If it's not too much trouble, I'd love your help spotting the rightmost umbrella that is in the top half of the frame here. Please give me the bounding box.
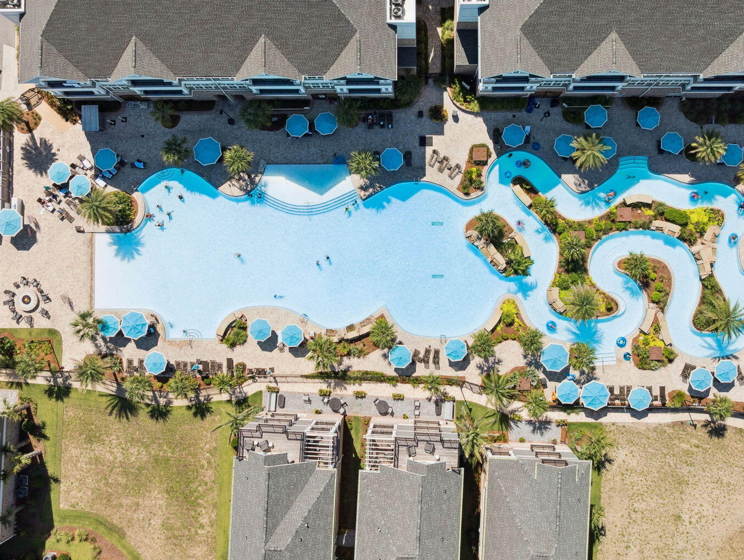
[719,143,743,167]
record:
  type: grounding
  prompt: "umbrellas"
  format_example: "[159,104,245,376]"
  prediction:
[0,208,25,238]
[48,162,71,184]
[660,132,684,155]
[120,310,149,340]
[580,380,610,409]
[379,149,402,171]
[628,386,651,409]
[192,136,222,166]
[143,351,167,374]
[556,380,579,403]
[95,149,116,171]
[636,108,658,130]
[249,317,274,341]
[596,138,618,161]
[502,124,525,147]
[689,366,712,389]
[541,343,569,372]
[584,106,607,129]
[719,143,743,167]
[280,325,304,348]
[286,113,310,138]
[713,359,736,382]
[314,112,337,135]
[100,314,120,337]
[68,175,91,197]
[388,344,412,369]
[444,338,467,362]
